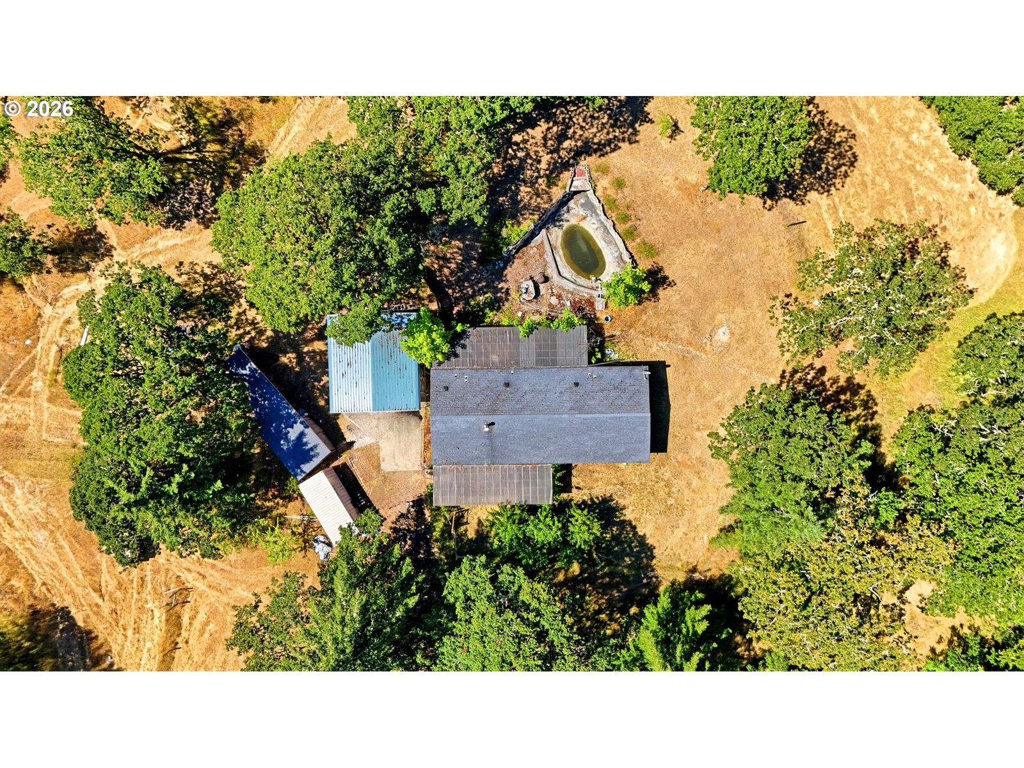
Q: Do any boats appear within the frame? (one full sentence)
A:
No, no boat is visible in the view.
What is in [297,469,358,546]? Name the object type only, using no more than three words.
shed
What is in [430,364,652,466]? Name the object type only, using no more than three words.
house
